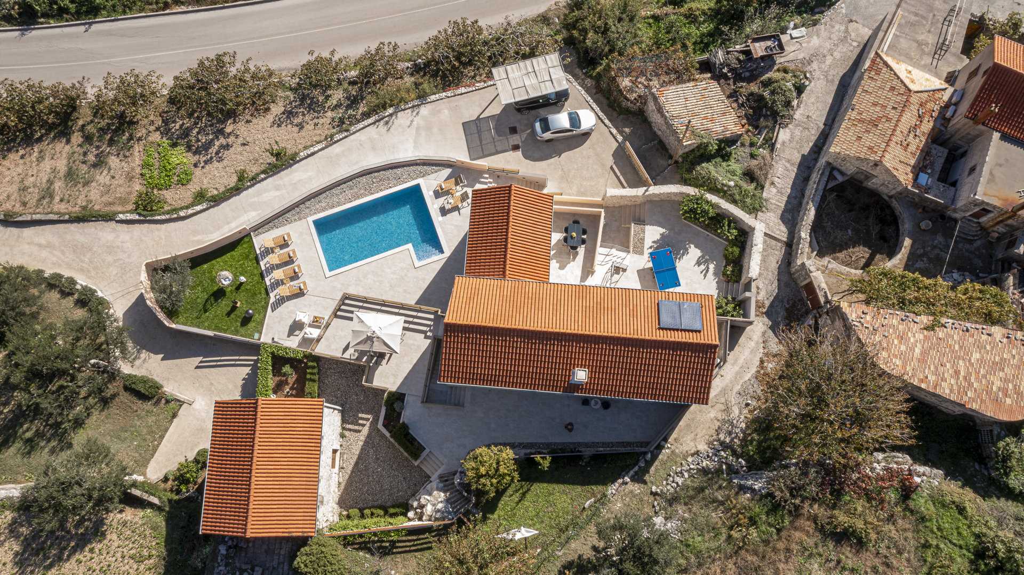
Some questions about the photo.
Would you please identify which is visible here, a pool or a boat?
pool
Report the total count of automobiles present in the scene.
2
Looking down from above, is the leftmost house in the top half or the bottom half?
bottom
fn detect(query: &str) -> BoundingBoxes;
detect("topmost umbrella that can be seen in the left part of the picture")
[350,312,404,353]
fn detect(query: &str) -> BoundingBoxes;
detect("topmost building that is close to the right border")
[882,0,973,84]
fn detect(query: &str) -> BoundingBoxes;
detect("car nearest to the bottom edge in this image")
[529,109,602,150]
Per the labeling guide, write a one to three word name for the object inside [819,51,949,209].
house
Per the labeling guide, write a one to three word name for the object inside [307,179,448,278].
swimming pool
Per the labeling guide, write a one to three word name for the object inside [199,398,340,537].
house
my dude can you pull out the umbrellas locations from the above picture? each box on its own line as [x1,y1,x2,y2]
[498,529,538,547]
[350,312,404,353]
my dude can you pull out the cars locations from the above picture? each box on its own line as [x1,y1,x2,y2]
[508,79,578,120]
[529,109,602,150]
